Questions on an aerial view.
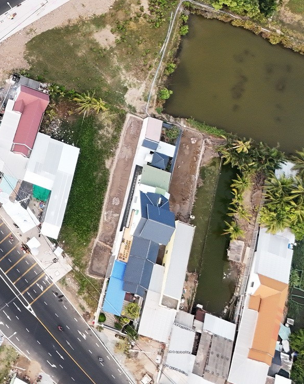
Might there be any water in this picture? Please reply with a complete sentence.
Yes, water shows up in the scene.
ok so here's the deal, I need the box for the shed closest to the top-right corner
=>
[265,162,298,180]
